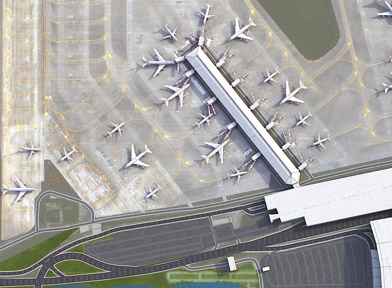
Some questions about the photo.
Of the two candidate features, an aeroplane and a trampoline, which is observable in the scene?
aeroplane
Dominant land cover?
paved ground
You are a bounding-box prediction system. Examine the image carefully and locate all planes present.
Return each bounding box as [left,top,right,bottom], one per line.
[264,68,280,83]
[197,2,215,24]
[194,113,213,127]
[228,17,255,42]
[105,121,125,137]
[125,144,152,168]
[62,147,79,162]
[313,133,333,149]
[383,82,392,93]
[227,166,247,184]
[279,79,307,104]
[4,175,36,203]
[163,23,178,42]
[201,140,229,163]
[141,48,175,76]
[20,140,41,157]
[296,111,314,126]
[162,83,190,107]
[377,0,392,17]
